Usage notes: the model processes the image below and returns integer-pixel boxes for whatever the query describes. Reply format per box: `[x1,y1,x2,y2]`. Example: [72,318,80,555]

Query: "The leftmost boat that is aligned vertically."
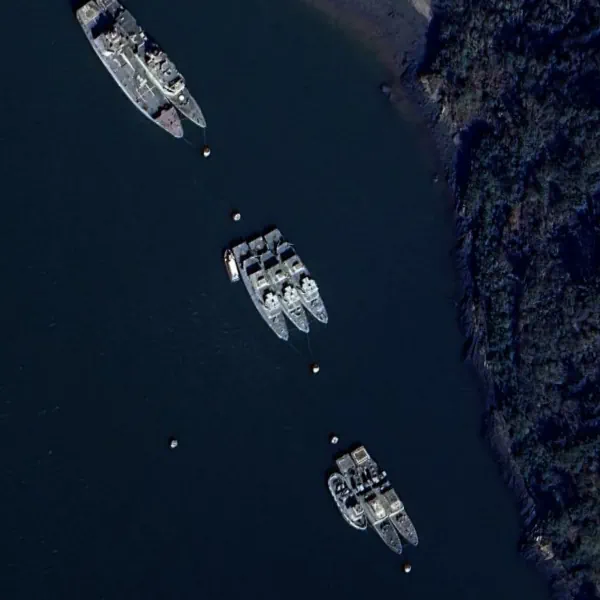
[227,248,240,281]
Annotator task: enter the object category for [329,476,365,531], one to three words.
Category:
boat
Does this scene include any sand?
No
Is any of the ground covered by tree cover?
Yes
